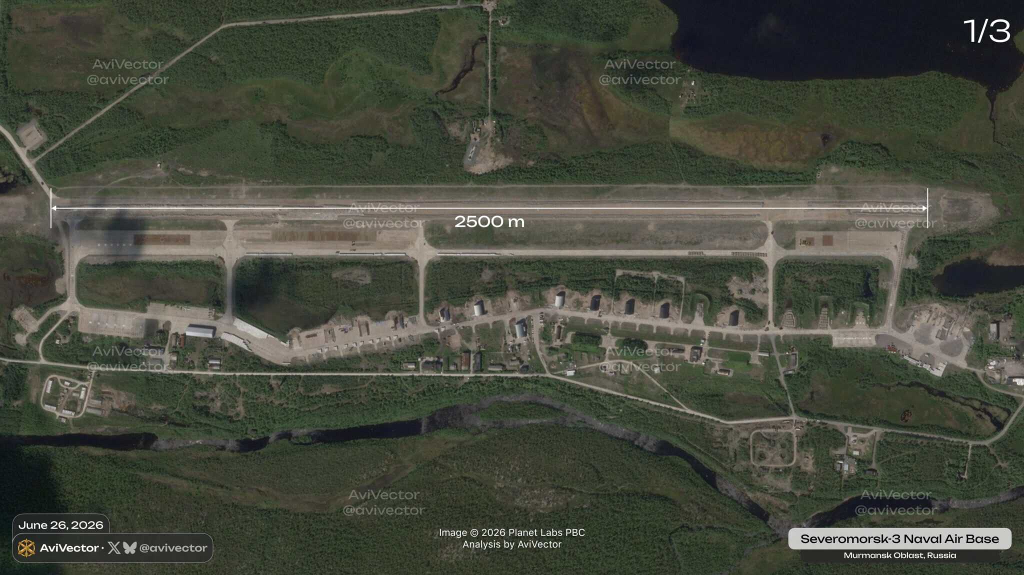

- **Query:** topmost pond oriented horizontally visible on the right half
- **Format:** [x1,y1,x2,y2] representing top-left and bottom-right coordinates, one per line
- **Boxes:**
[934,258,1024,296]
